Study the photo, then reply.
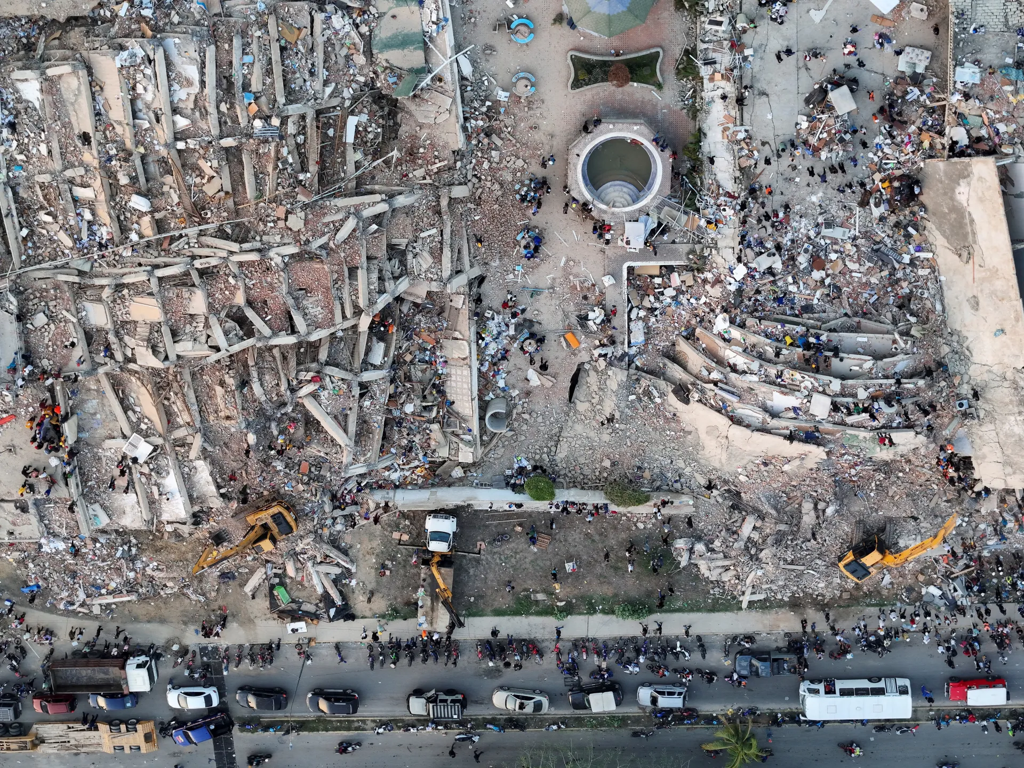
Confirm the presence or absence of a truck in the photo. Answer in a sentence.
Yes, the picture does show a truck.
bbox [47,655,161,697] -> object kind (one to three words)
truck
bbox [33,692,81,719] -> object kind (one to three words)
car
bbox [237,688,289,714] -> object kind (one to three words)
car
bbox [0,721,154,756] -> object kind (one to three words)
trailer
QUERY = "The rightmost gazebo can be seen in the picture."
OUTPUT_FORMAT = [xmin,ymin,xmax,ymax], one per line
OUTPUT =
[561,0,658,44]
